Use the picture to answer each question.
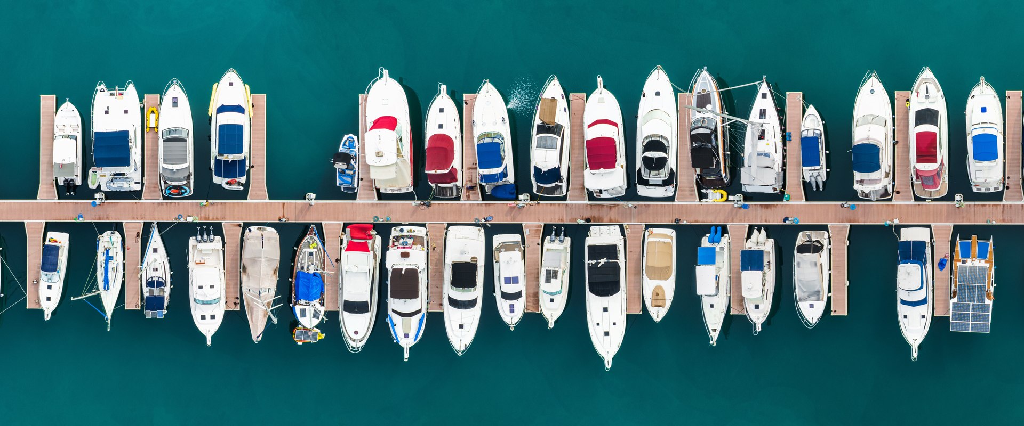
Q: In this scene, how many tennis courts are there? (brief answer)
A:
none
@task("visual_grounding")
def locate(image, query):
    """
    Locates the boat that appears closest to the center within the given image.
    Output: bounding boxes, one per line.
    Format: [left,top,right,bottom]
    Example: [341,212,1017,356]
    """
[492,184,516,199]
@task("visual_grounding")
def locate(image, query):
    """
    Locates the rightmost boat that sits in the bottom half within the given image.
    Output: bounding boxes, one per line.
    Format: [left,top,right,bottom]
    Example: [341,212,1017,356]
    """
[950,233,996,333]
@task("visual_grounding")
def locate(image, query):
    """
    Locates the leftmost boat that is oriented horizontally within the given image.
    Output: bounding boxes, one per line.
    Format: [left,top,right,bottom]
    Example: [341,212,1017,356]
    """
[105,177,136,191]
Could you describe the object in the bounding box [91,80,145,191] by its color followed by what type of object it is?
white boat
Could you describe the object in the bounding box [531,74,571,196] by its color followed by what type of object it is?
white boat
